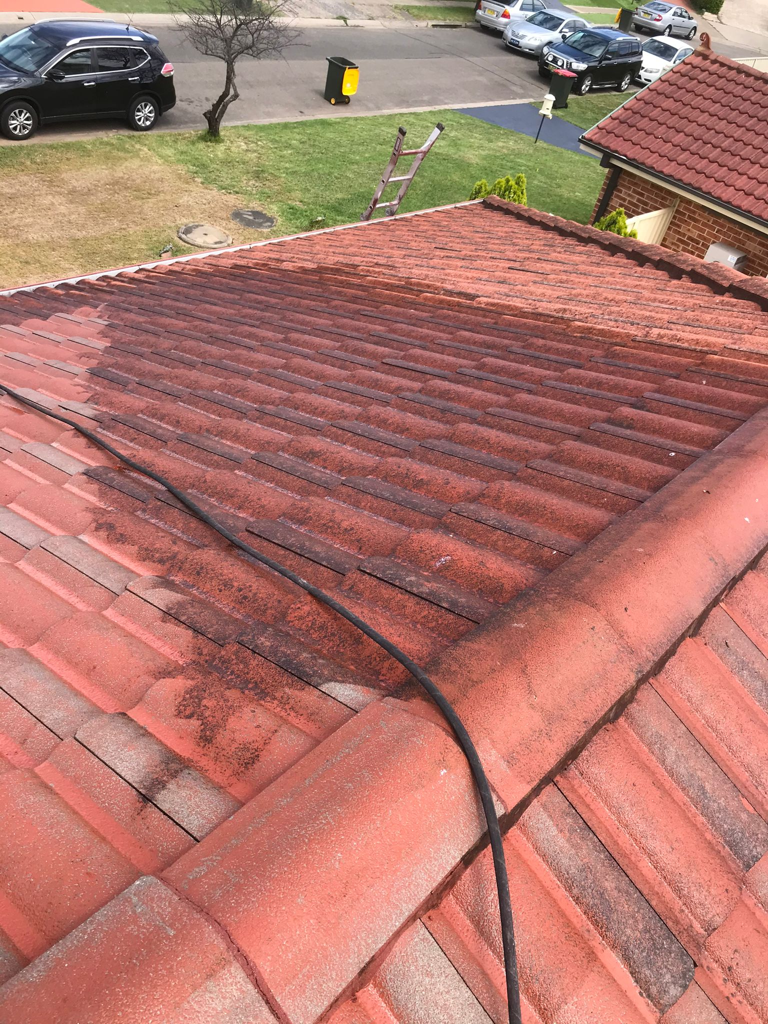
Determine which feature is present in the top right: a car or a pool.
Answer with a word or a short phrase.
car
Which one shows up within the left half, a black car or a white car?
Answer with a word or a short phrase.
black car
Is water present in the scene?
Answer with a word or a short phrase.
No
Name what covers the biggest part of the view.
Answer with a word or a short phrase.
buildings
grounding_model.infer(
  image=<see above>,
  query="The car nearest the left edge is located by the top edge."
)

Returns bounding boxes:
[0,18,180,137]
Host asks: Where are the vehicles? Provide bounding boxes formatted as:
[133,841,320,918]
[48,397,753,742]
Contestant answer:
[479,0,549,29]
[638,1,697,38]
[503,12,587,52]
[0,18,180,137]
[529,20,644,93]
[634,42,692,84]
